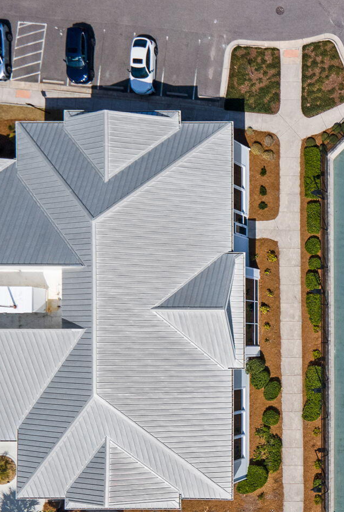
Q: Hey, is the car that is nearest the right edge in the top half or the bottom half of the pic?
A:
top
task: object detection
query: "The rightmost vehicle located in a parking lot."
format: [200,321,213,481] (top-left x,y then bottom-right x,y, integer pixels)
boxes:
[125,37,156,95]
